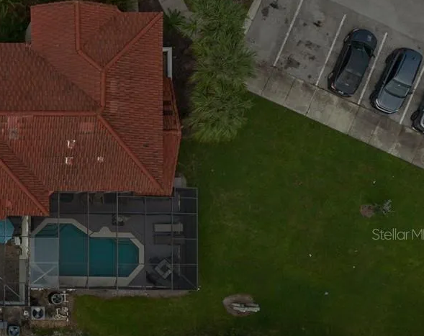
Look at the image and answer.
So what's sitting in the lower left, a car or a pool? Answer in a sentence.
You can see a pool in the lower left.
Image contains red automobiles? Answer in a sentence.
No, the photo shows no red automobile.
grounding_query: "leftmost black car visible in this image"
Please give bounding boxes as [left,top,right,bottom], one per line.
[324,25,378,100]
